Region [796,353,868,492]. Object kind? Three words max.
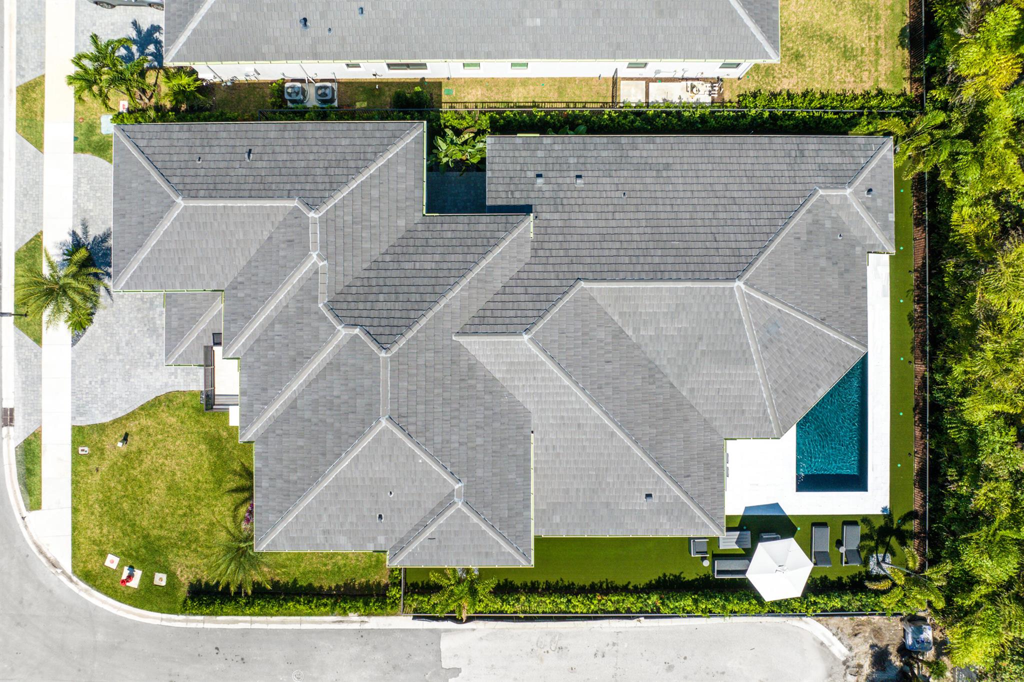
swimming pool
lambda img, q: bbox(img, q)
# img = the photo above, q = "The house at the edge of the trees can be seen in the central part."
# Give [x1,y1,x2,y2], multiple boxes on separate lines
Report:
[110,121,897,570]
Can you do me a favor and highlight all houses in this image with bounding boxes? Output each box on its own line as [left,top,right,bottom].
[162,0,781,84]
[110,121,897,570]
